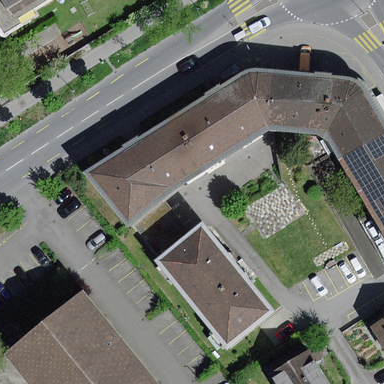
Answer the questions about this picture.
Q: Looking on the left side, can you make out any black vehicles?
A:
Yes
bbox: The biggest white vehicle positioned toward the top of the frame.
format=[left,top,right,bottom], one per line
[249,16,272,34]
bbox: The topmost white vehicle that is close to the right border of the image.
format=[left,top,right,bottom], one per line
[363,219,380,240]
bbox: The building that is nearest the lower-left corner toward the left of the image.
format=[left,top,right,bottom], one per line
[4,290,152,384]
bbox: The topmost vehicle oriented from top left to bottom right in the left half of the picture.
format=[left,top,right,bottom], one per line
[32,244,51,267]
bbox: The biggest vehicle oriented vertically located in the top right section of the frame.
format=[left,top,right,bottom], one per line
[300,46,312,71]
